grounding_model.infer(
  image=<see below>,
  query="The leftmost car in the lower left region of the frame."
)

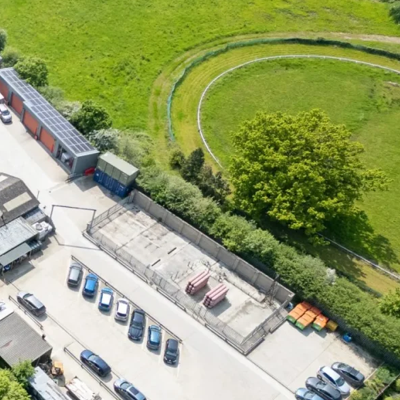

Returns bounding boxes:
[16,292,47,317]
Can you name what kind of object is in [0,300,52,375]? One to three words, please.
shed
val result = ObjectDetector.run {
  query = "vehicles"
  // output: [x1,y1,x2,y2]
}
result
[83,274,99,297]
[114,298,131,323]
[67,264,83,286]
[162,337,180,365]
[16,292,47,317]
[0,103,11,122]
[328,361,368,392]
[79,349,112,378]
[145,326,163,351]
[98,289,115,312]
[127,309,146,342]
[317,367,350,395]
[51,359,73,382]
[0,92,5,104]
[66,377,107,400]
[294,387,325,400]
[112,378,147,400]
[305,377,344,400]
[28,369,71,400]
